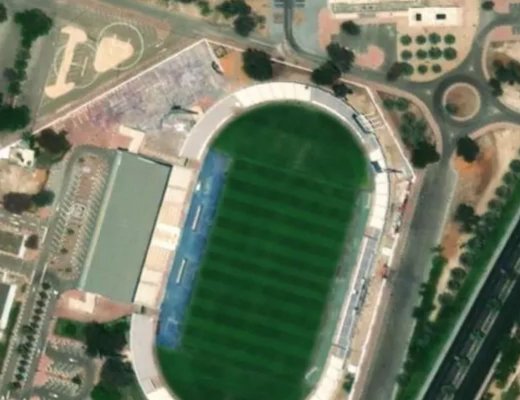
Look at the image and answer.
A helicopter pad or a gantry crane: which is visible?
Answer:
helicopter pad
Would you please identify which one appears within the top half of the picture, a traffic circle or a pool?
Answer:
traffic circle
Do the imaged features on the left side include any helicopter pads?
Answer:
Yes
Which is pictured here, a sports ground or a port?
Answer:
sports ground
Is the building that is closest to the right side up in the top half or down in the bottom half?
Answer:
top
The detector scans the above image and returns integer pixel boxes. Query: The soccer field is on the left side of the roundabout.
[154,99,375,400]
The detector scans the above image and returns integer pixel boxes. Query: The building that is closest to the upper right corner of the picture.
[410,6,464,26]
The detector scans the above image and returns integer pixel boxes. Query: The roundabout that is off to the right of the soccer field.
[427,68,495,136]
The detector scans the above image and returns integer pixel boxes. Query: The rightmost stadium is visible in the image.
[129,81,390,400]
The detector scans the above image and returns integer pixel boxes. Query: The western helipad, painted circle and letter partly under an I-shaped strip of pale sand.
[45,26,99,98]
